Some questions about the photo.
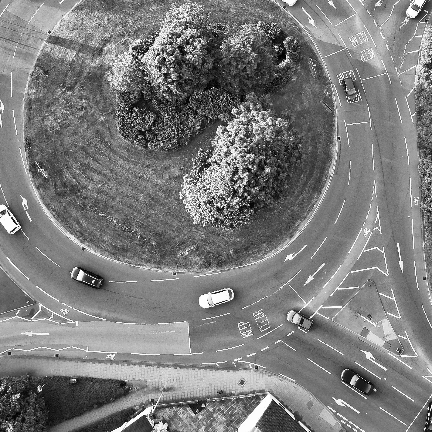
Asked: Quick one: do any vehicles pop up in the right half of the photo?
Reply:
Yes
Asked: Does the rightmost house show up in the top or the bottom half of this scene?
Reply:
bottom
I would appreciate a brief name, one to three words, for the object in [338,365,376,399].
car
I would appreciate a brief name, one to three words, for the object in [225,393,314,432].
house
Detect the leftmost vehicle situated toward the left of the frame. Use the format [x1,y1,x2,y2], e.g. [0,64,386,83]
[0,203,22,236]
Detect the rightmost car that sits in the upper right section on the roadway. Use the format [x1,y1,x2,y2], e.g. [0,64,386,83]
[403,0,428,20]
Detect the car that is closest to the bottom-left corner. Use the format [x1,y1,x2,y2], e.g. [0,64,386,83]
[69,266,105,291]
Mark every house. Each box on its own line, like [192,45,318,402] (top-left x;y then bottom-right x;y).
[225,393,314,432]
[112,406,163,432]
